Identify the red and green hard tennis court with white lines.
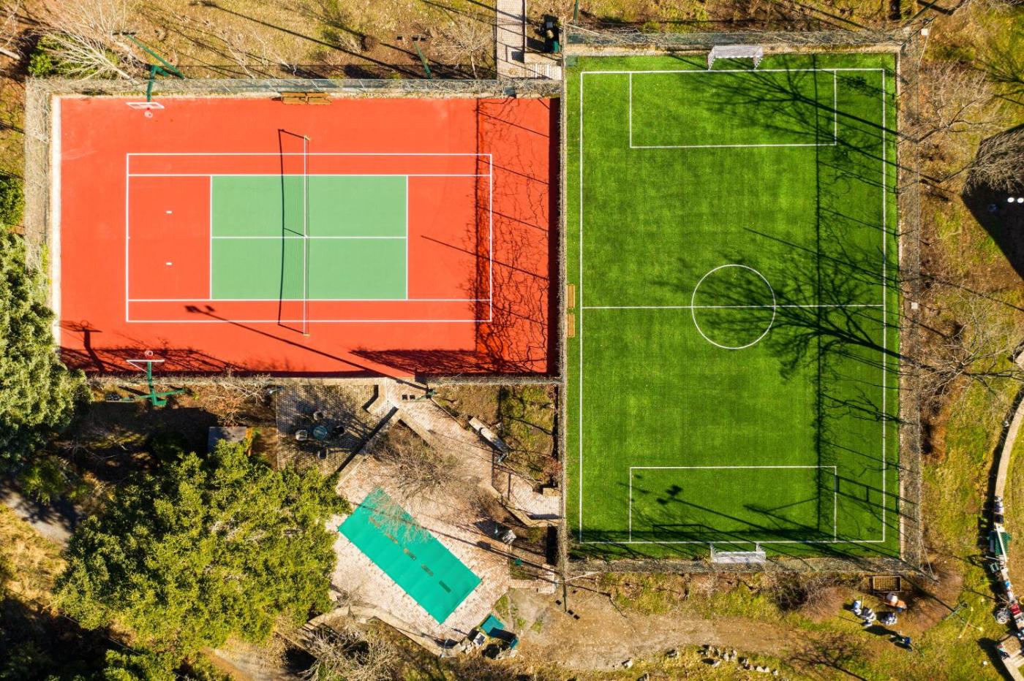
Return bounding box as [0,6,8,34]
[59,97,560,379]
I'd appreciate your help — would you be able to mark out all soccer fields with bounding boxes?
[566,54,898,560]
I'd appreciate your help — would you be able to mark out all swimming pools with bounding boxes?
[336,486,483,626]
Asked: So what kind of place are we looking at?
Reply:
sports ground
